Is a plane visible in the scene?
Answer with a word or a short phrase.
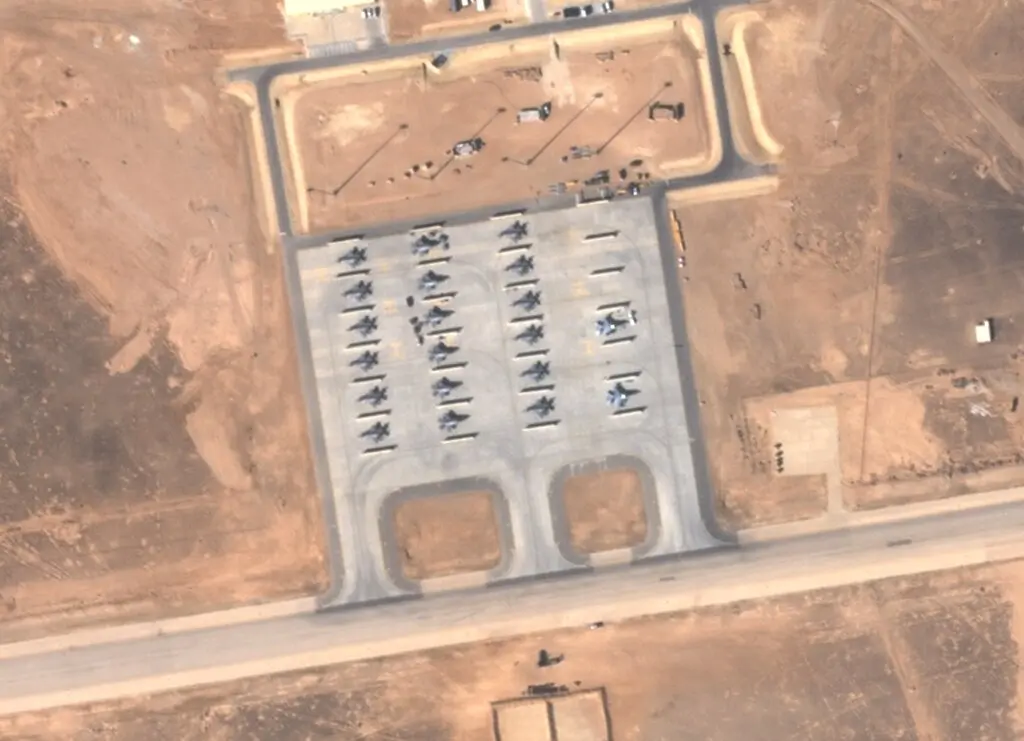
Yes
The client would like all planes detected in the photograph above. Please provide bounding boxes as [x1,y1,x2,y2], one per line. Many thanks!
[338,249,363,267]
[412,237,437,256]
[514,328,539,346]
[357,389,382,407]
[426,308,451,327]
[351,353,375,371]
[360,424,386,443]
[440,413,466,431]
[498,223,524,242]
[596,318,624,338]
[519,364,545,382]
[429,345,455,363]
[523,400,549,419]
[342,282,368,301]
[419,274,444,292]
[608,388,637,408]
[511,294,535,312]
[348,317,372,335]
[504,258,530,277]
[433,379,459,398]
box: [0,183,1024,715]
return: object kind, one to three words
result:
airport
